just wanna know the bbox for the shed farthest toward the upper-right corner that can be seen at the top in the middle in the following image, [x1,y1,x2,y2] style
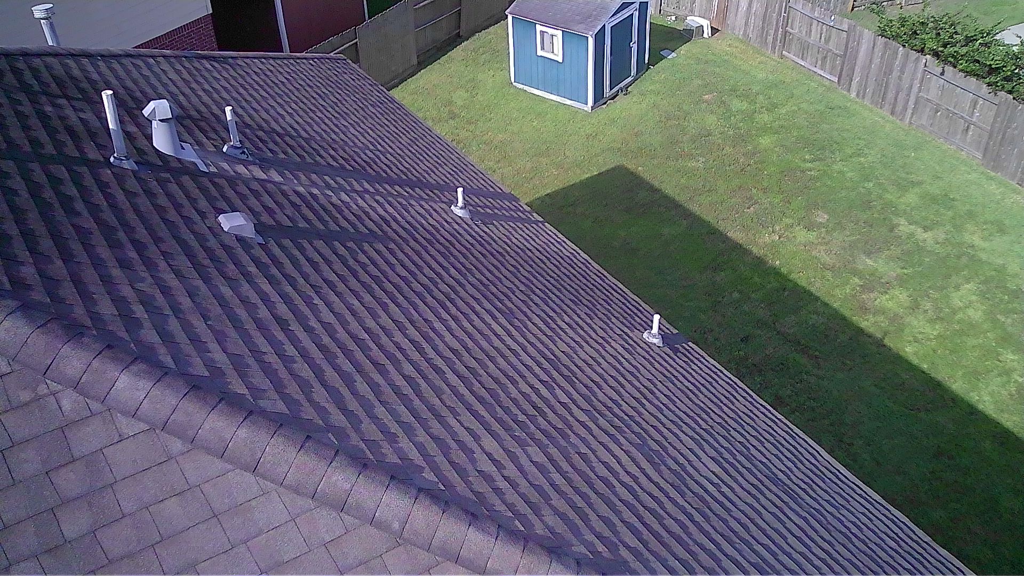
[506,0,654,111]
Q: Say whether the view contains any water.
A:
No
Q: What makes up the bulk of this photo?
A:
buildings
